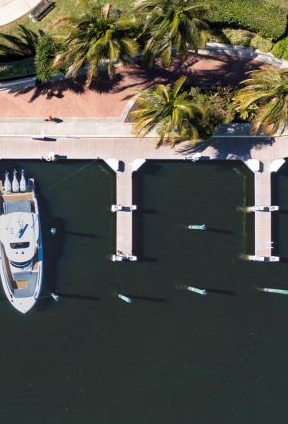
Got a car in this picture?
No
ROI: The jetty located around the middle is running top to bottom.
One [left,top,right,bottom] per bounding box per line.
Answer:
[104,160,145,261]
